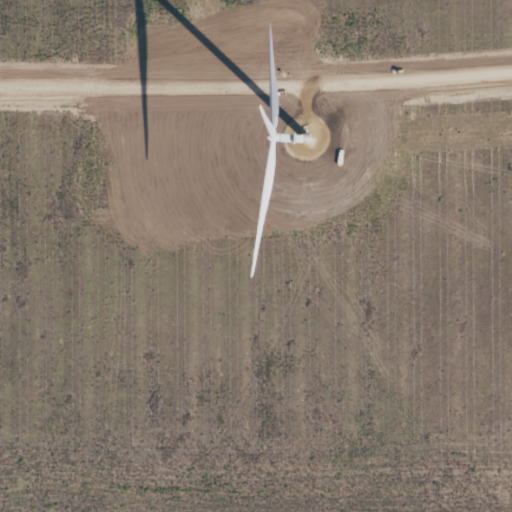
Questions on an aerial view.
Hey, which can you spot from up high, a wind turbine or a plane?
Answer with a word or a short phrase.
wind turbine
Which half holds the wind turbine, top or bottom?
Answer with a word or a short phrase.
top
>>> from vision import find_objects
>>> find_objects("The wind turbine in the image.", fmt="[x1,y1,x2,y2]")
[252,28,320,275]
